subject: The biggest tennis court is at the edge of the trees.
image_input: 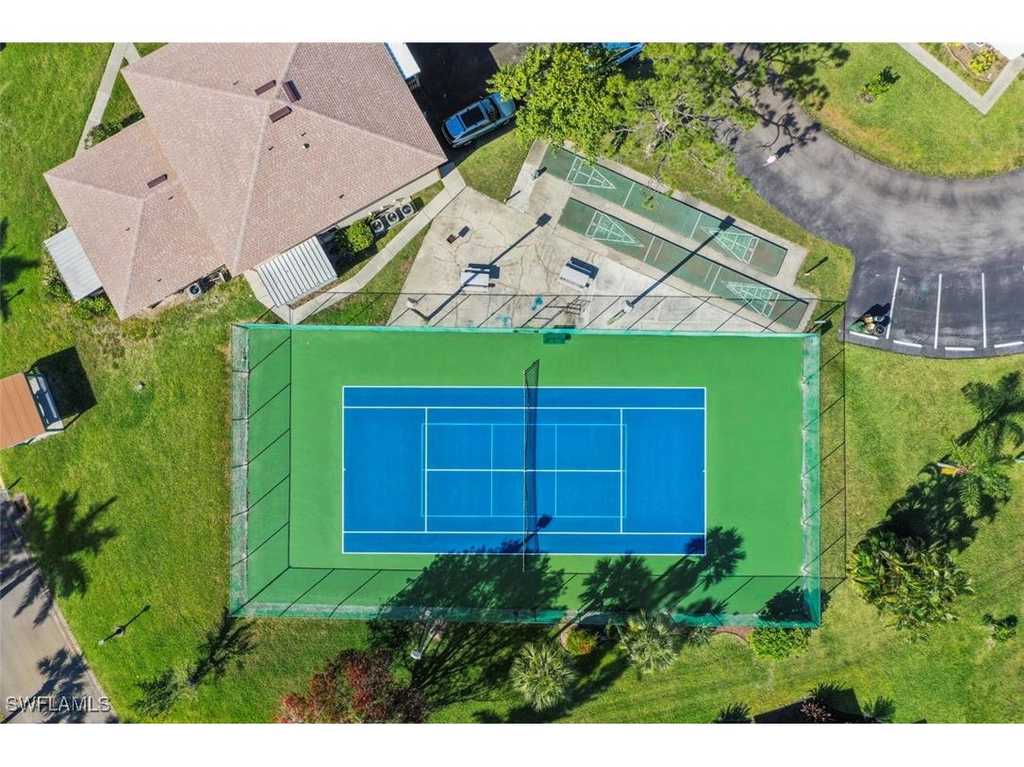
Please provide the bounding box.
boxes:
[230,329,804,614]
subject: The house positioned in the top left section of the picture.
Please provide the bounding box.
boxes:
[43,0,447,319]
